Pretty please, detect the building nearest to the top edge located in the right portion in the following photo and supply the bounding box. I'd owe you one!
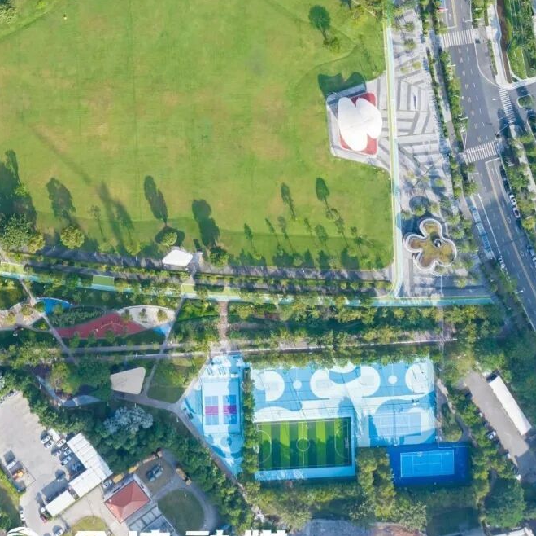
[327,70,391,162]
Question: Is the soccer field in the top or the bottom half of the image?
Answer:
bottom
